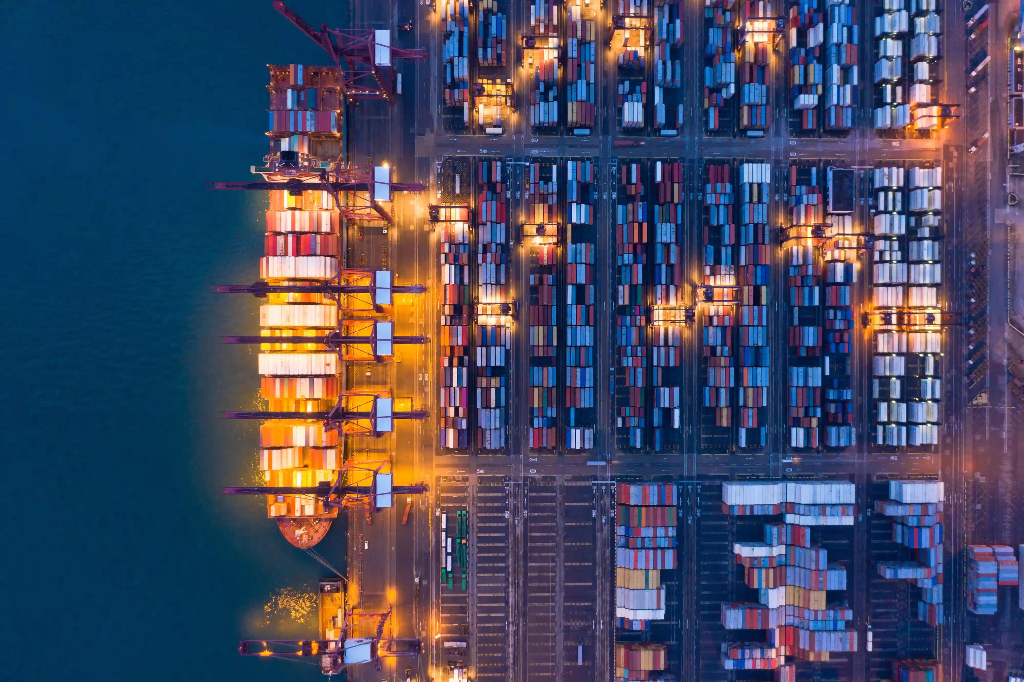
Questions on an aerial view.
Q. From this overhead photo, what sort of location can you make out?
port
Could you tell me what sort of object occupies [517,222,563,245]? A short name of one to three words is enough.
container crane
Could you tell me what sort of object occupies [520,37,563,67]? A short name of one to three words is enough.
container crane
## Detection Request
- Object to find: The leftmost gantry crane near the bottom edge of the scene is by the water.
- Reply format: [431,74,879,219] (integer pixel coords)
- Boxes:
[239,602,422,671]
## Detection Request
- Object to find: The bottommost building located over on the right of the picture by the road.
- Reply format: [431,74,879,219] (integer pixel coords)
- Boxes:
[827,163,856,212]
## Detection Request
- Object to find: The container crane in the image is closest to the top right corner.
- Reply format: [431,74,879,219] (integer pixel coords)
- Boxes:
[900,103,963,130]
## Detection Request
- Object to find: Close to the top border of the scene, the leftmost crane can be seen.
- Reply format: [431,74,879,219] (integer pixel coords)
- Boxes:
[259,0,428,107]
